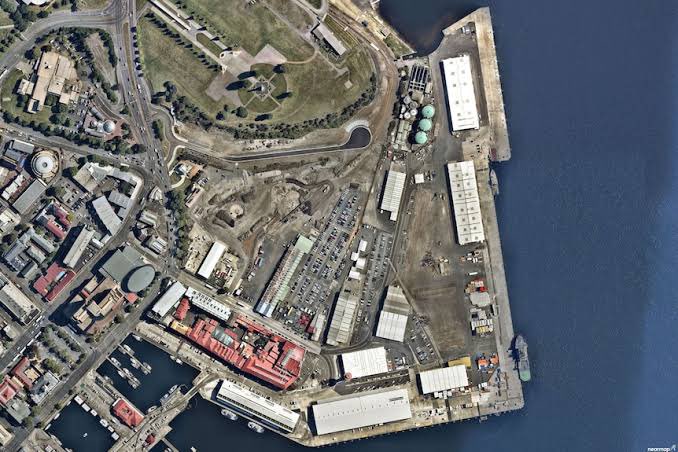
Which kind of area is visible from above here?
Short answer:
port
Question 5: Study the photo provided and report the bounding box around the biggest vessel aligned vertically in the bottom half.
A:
[517,336,530,383]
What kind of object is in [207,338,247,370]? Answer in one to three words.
building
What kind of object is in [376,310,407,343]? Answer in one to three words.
shed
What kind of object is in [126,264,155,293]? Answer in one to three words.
building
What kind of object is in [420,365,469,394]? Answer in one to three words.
shed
